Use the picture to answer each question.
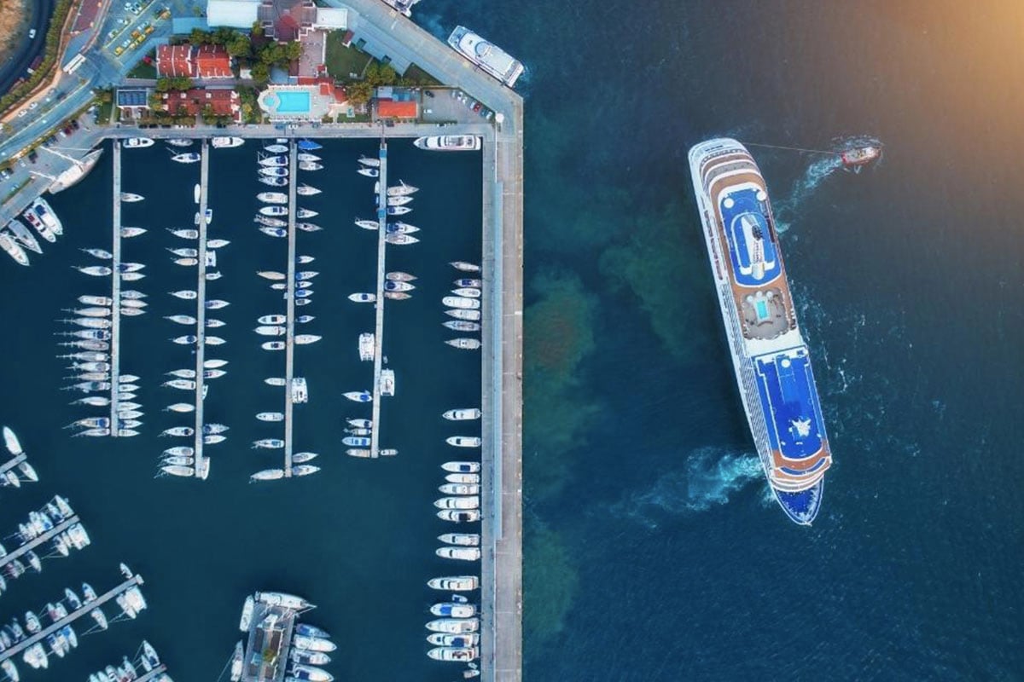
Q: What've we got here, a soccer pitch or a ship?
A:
ship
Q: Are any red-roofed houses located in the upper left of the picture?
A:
Yes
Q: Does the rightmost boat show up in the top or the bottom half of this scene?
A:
top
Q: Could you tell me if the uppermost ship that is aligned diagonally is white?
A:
Yes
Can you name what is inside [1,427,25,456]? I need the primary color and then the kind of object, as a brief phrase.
white boat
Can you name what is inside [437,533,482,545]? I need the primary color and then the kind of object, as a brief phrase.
white boat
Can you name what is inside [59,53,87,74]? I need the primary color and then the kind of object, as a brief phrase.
white bus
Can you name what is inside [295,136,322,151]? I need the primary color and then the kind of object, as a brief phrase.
blue boat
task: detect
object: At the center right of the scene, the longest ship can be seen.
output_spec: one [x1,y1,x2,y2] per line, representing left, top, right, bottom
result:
[687,136,833,527]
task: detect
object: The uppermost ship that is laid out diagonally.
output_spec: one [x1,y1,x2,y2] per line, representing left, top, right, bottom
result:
[447,24,521,86]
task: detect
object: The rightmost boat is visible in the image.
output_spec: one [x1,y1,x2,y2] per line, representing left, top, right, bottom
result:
[840,146,883,167]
